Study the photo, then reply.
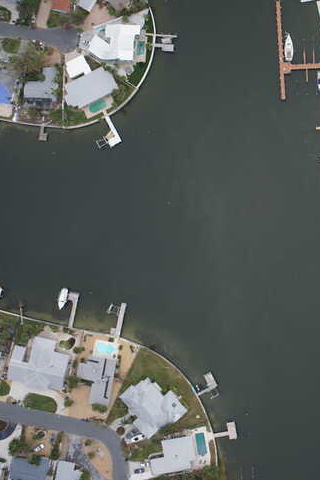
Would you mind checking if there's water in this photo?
Yes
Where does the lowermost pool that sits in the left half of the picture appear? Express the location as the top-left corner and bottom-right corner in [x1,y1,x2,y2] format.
[95,341,116,354]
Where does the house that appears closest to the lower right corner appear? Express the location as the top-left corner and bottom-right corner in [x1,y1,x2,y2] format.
[148,433,198,476]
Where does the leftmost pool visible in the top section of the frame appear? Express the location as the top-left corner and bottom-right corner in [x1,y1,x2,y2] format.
[87,97,108,113]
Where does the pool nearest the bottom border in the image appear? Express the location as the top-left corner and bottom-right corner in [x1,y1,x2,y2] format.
[195,433,207,456]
